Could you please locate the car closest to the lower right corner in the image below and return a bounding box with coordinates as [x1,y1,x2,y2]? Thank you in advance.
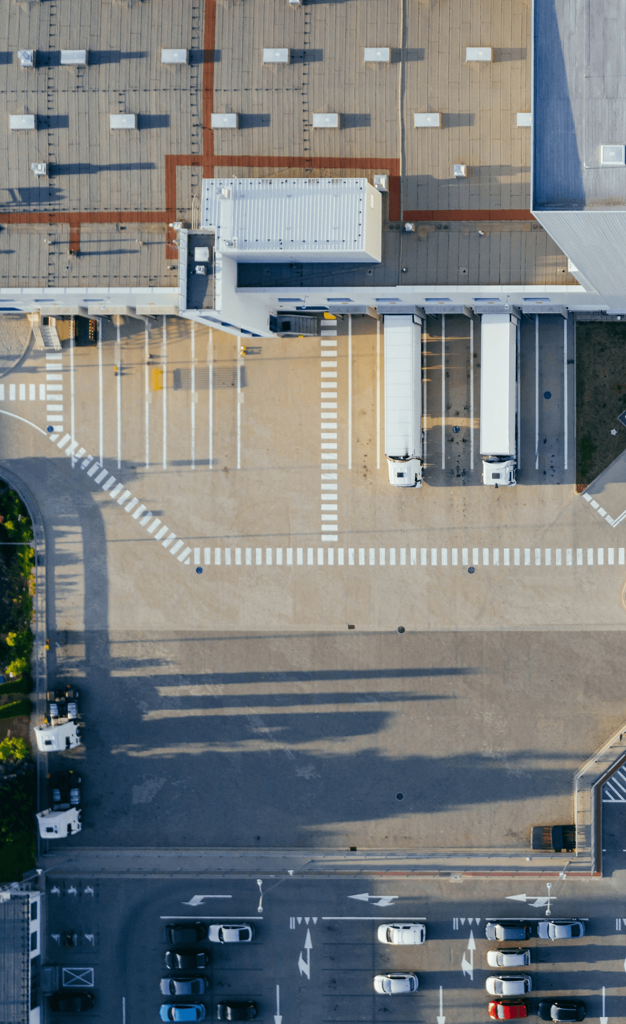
[539,998,586,1024]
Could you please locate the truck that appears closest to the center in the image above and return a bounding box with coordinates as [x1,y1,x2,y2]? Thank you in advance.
[387,457,424,489]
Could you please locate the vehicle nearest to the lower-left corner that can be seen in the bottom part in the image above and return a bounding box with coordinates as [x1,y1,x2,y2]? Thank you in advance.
[50,990,98,1015]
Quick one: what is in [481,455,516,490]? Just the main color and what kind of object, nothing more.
white truck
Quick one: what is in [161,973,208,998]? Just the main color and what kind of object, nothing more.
blue car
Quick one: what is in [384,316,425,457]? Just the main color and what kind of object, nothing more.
white trailer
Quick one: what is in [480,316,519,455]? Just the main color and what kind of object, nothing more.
white trailer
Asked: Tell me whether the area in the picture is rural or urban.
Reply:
urban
